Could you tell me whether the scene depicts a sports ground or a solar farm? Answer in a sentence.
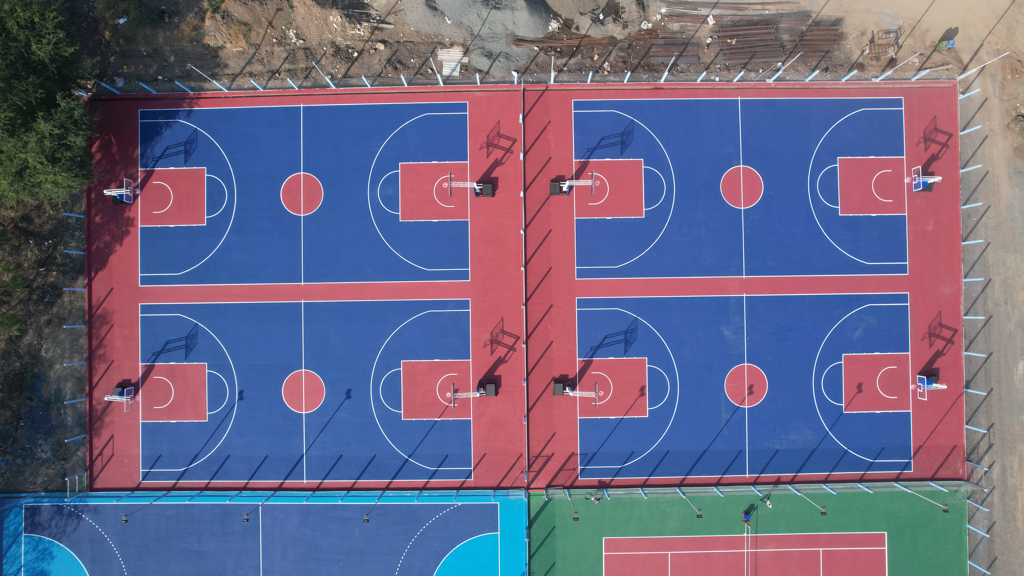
What you see here is a sports ground.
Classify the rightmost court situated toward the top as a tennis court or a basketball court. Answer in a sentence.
From above, the rightmost court situated toward the top can be identified as a basketball court.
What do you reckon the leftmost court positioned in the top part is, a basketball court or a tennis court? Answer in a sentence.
I'd identify the leftmost court positioned in the top part as a basketball court.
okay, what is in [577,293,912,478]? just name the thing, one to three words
basketball court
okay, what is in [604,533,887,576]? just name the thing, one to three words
tennis court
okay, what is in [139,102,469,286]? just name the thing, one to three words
basketball court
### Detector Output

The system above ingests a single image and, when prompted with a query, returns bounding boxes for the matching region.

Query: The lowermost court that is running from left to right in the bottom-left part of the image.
[24,503,499,576]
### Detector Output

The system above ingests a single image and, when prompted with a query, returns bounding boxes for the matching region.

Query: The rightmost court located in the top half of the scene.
[573,98,908,279]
